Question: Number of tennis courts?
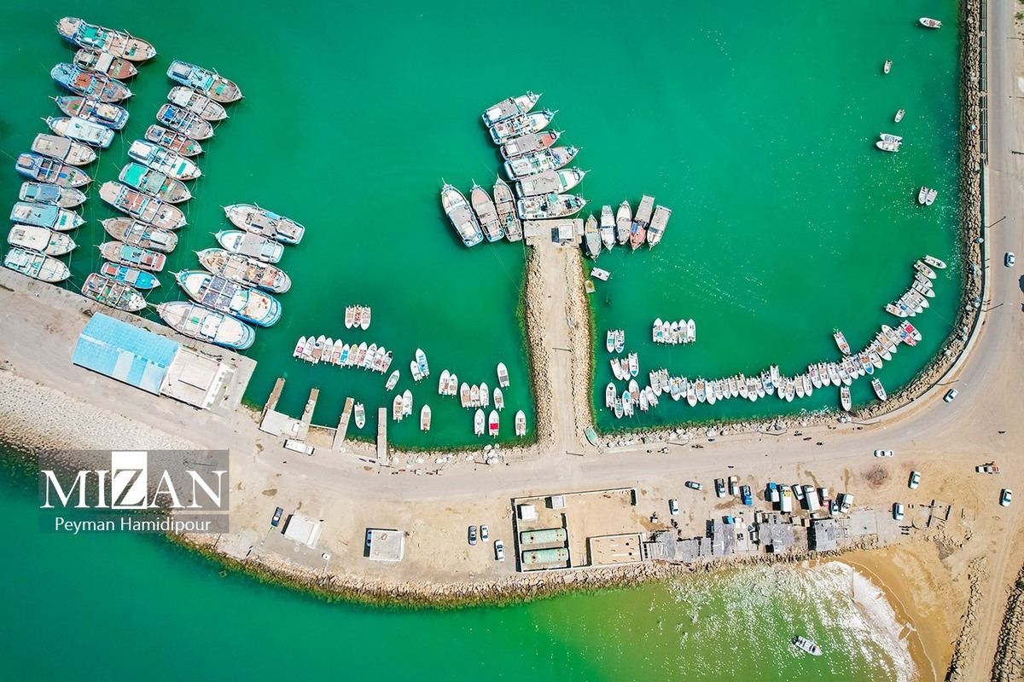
0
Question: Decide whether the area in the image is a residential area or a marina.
marina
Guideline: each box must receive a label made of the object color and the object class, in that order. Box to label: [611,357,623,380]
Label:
white boat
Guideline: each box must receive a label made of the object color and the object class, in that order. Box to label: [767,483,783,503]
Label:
white vehicle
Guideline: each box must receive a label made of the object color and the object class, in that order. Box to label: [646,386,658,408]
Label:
white boat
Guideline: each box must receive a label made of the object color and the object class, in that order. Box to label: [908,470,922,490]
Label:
white car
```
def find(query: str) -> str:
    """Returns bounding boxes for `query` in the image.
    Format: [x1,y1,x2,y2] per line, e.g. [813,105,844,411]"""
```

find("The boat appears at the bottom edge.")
[794,637,822,655]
